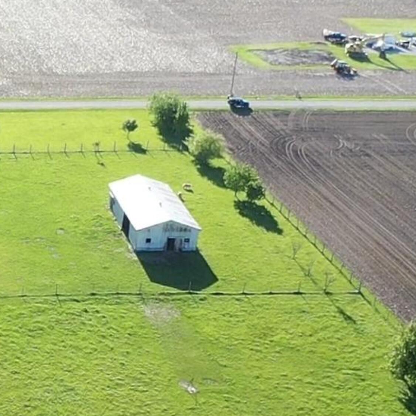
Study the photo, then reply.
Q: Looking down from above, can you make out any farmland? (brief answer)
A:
Yes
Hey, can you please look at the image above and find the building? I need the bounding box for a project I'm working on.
[107,174,205,251]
